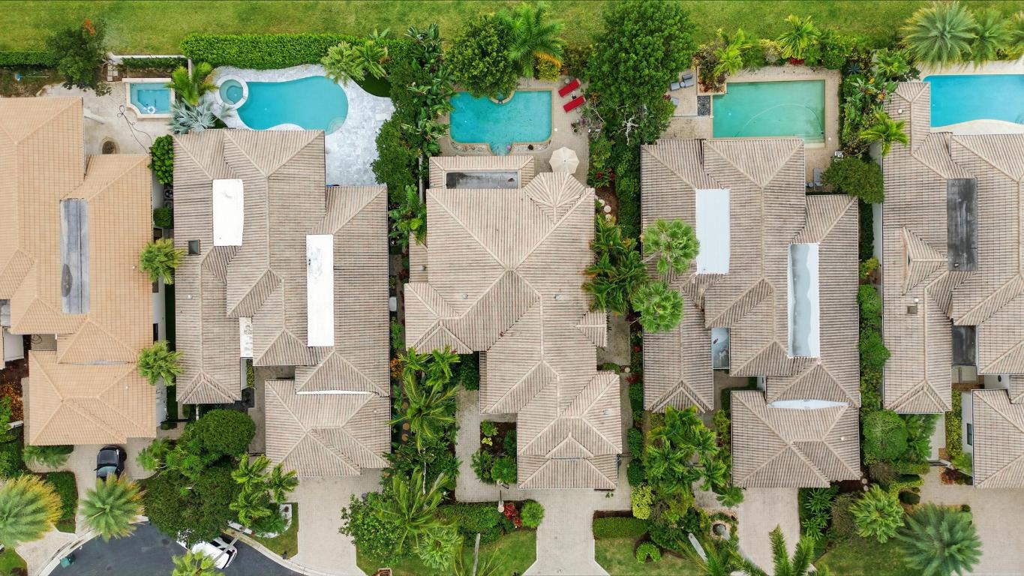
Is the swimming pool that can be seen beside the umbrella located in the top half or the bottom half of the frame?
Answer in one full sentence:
It is in the top half that the swimming pool that can be seen beside the umbrella appears.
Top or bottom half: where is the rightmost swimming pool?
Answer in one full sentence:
Seen from above, the rightmost swimming pool lies in the top half of the view.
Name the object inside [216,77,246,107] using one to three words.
swimming pool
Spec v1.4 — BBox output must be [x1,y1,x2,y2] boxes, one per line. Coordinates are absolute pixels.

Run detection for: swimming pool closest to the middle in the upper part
[447,87,555,156]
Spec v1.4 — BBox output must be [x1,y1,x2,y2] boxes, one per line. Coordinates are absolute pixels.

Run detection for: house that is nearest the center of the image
[403,155,623,489]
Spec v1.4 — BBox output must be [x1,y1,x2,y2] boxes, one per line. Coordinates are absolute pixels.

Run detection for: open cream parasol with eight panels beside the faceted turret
[549,146,578,173]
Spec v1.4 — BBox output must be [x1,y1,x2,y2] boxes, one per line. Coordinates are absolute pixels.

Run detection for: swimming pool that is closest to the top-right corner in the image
[919,69,1024,132]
